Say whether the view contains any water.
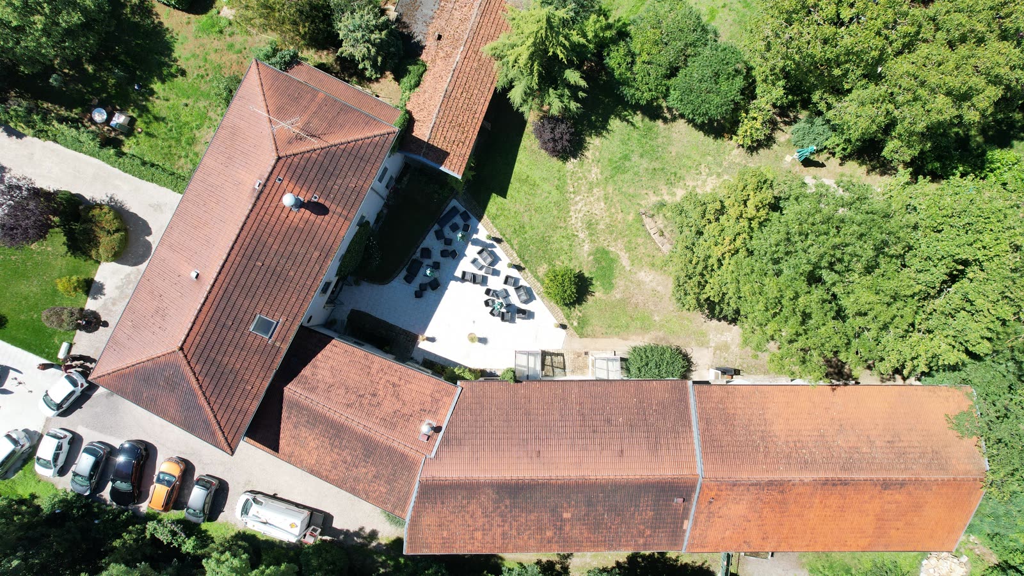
No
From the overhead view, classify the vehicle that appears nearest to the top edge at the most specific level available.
automobile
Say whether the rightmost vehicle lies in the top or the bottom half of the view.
bottom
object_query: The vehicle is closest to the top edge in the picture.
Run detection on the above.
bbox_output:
[38,365,94,419]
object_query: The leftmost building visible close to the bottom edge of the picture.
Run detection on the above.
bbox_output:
[402,379,704,555]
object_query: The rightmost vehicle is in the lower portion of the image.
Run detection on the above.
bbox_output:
[233,487,318,551]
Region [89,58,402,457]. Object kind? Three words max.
house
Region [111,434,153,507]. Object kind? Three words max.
car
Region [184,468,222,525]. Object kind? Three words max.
car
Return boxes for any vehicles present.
[0,424,39,482]
[184,468,222,525]
[71,434,115,500]
[38,365,94,419]
[233,487,318,551]
[111,434,153,507]
[35,421,77,480]
[142,450,192,516]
